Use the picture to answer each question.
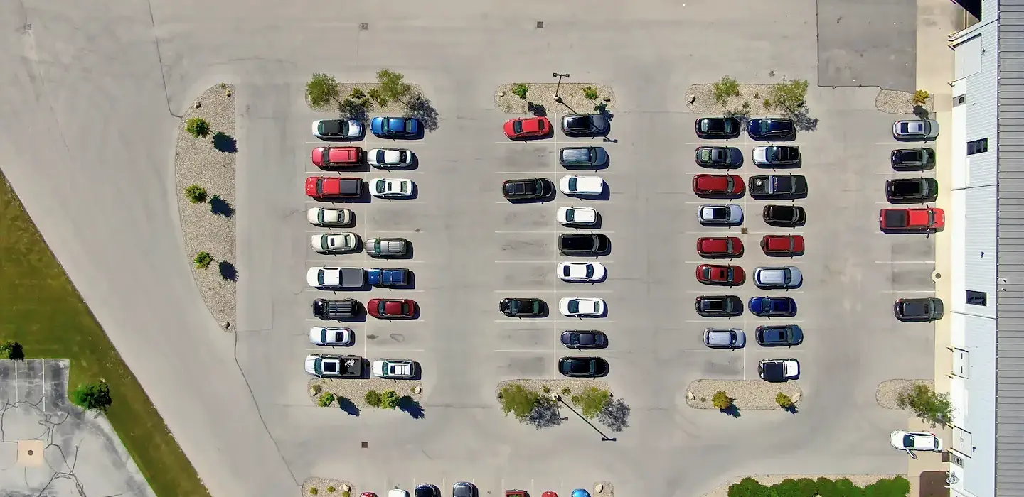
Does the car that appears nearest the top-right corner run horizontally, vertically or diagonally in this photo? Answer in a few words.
horizontally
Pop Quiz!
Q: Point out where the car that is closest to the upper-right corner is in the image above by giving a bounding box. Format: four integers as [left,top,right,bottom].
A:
[891,117,940,140]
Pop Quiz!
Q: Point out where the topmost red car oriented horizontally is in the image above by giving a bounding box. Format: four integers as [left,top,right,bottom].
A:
[504,117,550,140]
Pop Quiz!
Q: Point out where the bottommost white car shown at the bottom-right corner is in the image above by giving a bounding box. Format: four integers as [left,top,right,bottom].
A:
[888,430,943,459]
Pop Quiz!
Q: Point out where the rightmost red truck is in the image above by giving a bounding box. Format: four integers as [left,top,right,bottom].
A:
[878,206,946,231]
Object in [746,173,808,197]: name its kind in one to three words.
truck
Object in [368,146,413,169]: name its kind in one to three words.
car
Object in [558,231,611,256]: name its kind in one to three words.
vehicle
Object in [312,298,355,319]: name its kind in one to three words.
car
